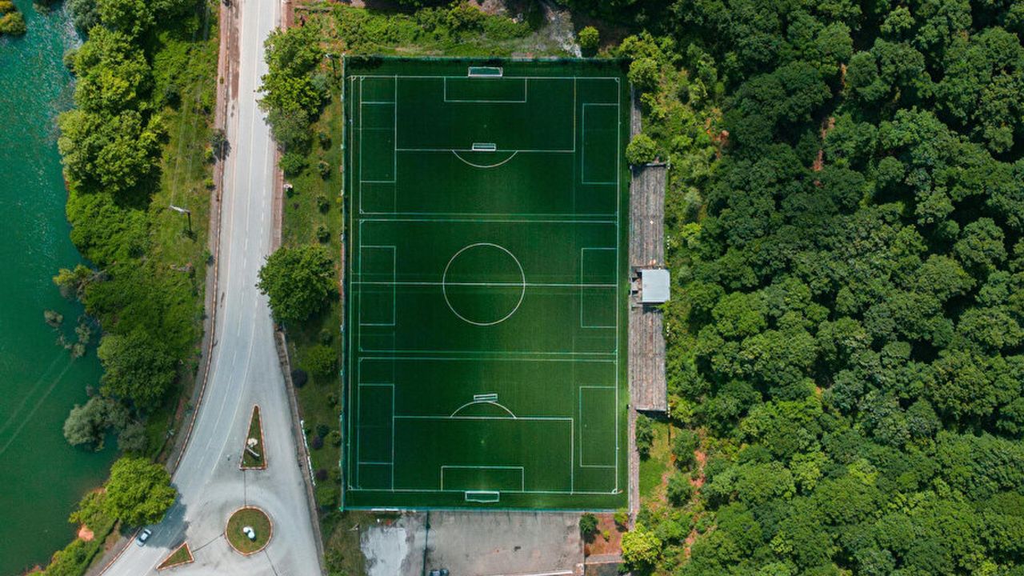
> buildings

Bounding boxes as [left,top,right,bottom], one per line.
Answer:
[632,269,671,302]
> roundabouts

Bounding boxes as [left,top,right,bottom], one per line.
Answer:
[224,506,273,555]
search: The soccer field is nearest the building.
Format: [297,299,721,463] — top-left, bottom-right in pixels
[345,62,630,510]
